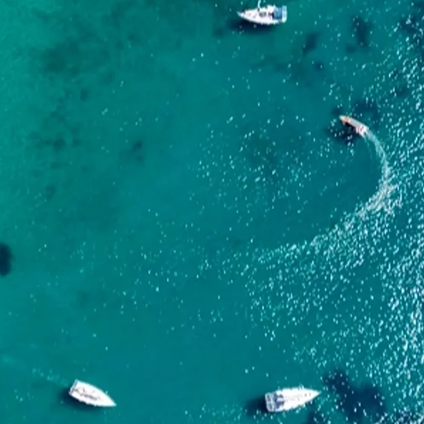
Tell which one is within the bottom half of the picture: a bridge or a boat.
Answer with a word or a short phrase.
boat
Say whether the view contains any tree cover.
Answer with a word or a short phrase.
No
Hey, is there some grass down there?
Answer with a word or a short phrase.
No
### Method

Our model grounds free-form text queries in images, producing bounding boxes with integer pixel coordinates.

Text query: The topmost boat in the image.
[238,0,290,22]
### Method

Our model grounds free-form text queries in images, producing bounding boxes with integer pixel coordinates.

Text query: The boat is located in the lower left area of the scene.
[66,382,117,408]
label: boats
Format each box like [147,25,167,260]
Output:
[66,382,117,408]
[238,0,290,22]
[259,385,320,412]
[340,116,369,138]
